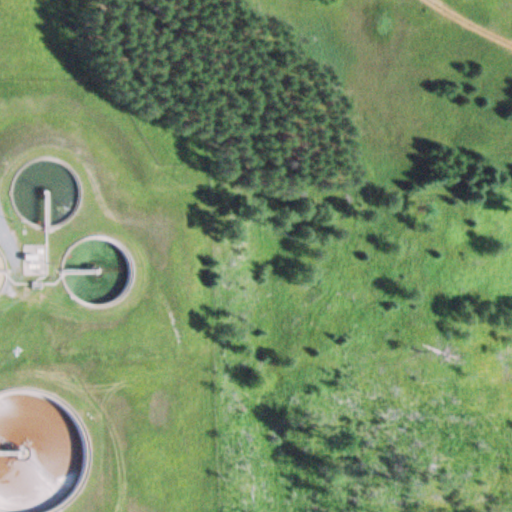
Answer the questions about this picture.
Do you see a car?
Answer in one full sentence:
No, there's no car here.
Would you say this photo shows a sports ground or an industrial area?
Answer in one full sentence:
This looks like an industrial area.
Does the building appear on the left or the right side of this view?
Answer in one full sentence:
The building appears in the left half of the scene.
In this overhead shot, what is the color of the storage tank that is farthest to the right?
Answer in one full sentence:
In this view, the storage tank that is farthest to the right is green.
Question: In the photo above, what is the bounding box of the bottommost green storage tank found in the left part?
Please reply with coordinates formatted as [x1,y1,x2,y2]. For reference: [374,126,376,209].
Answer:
[61,236,133,308]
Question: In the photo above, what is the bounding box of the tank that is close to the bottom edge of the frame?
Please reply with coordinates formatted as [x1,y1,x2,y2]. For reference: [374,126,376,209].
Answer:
[0,386,92,512]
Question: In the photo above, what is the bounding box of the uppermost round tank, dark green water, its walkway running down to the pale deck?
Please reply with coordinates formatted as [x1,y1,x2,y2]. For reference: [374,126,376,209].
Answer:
[12,158,81,266]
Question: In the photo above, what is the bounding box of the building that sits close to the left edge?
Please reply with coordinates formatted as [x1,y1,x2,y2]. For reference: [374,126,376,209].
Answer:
[23,244,48,276]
